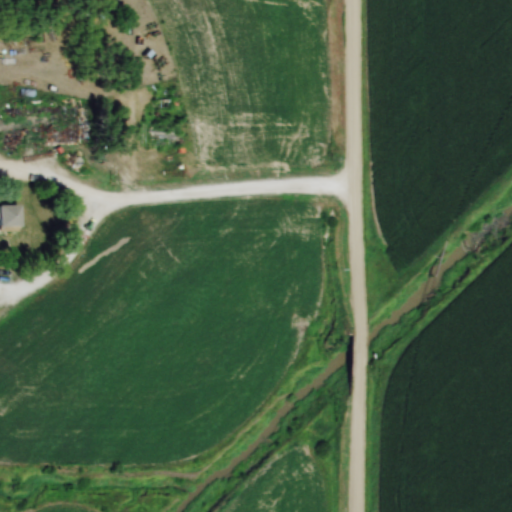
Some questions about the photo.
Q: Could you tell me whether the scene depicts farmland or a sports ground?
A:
farmland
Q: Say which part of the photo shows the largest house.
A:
left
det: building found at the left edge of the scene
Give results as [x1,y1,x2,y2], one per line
[1,205,24,232]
